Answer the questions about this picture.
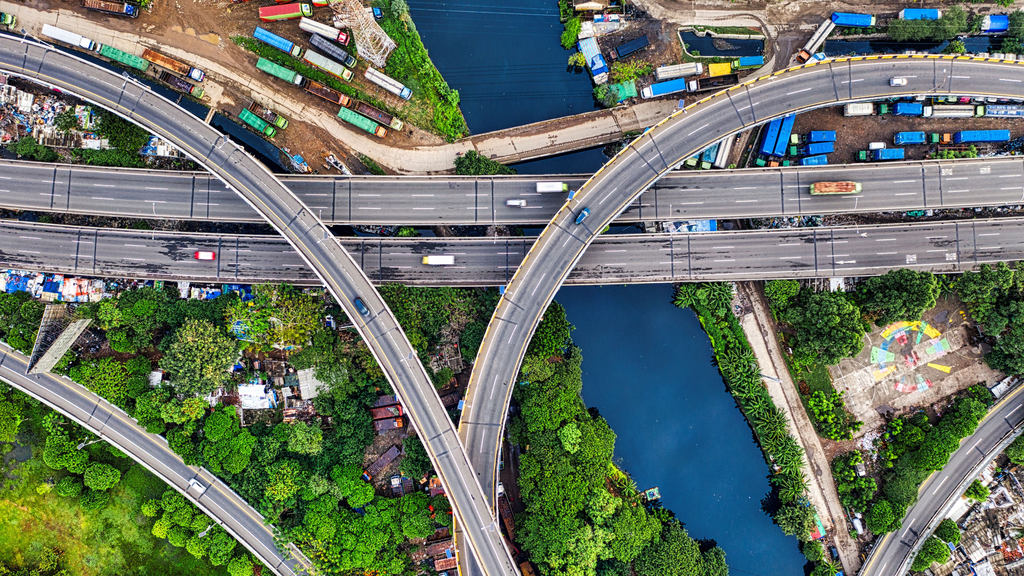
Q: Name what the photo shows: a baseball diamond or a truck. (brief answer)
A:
truck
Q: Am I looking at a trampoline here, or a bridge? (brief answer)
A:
bridge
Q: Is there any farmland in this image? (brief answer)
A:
No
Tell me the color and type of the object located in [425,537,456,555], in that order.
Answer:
red vehicle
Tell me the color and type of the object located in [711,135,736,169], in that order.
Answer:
white truck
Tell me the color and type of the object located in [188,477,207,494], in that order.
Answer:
white car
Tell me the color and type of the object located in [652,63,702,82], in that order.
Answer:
white vehicle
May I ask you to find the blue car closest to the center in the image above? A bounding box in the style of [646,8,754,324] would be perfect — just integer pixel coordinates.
[575,206,591,226]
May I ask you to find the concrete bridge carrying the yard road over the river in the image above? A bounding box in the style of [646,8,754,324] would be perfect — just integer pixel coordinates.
[472,101,658,161]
